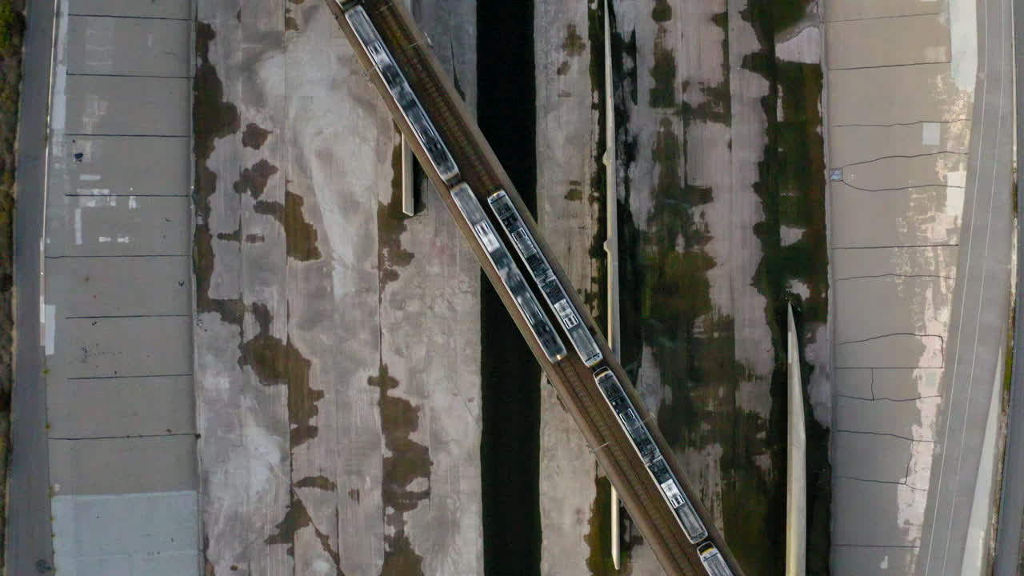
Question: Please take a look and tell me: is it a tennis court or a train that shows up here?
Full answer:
There is a train in the scene.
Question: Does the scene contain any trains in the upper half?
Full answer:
Yes, looking in the upper half, one can make out a train.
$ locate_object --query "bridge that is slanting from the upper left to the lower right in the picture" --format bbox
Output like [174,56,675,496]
[326,0,806,576]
